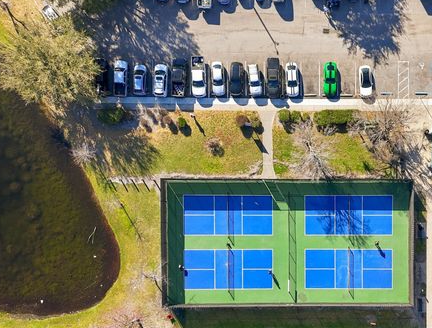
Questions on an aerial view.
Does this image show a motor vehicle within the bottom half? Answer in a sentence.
No, the scene shows no motor vehicle within the bottom half.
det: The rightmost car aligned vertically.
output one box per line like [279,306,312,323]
[359,66,374,98]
